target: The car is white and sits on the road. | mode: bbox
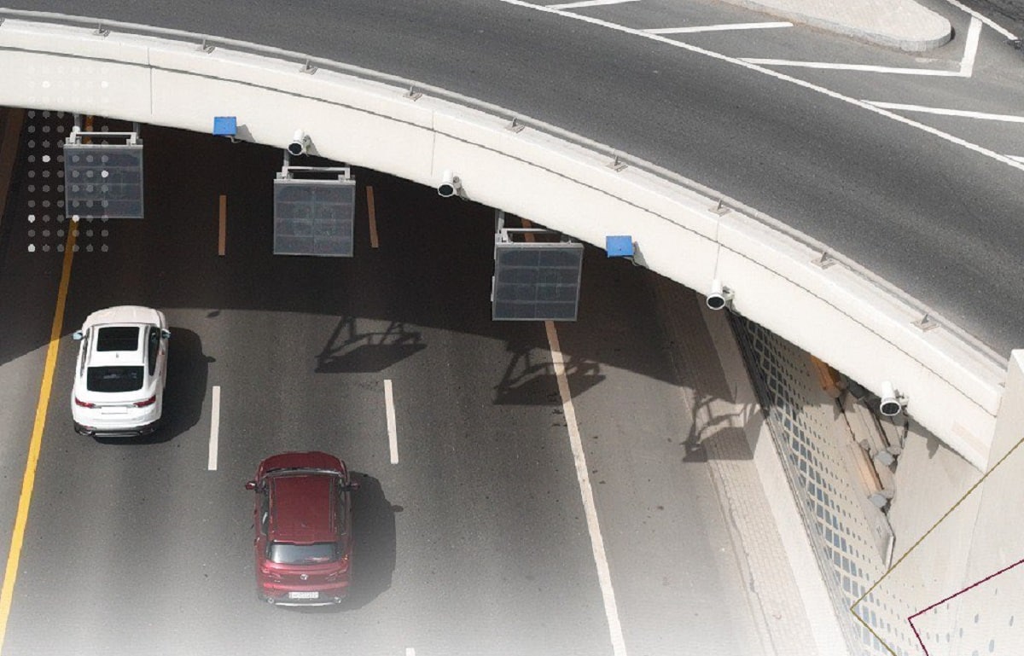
[71,304,171,441]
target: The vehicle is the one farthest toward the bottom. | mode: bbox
[244,451,356,611]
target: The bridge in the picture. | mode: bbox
[0,19,1015,472]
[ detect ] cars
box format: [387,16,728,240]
[71,304,171,441]
[244,451,356,611]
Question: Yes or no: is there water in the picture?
No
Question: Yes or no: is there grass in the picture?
No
